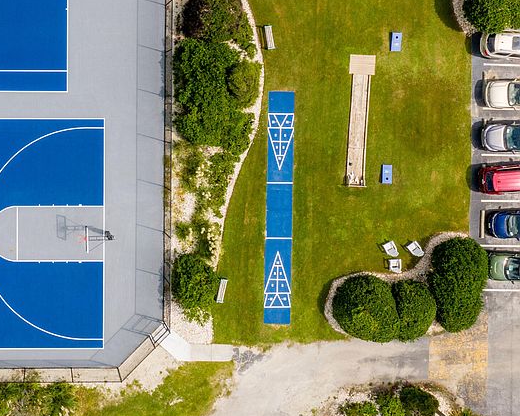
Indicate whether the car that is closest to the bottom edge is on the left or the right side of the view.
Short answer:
right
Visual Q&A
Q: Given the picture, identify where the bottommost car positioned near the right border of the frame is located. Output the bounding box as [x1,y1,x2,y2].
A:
[488,251,520,283]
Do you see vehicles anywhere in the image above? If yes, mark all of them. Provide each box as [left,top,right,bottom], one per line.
[490,209,520,243]
[477,32,520,61]
[483,78,520,111]
[476,166,520,195]
[488,251,520,283]
[482,122,520,155]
